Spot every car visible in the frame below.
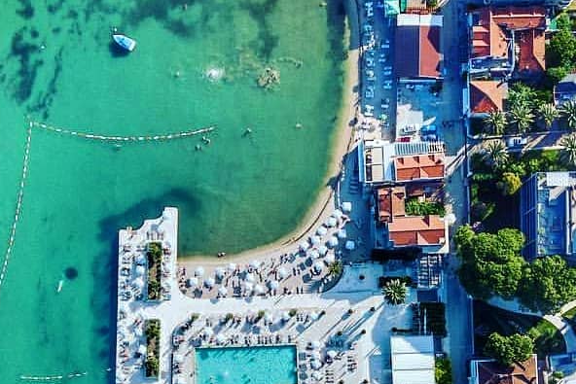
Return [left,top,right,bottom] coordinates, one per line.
[506,137,525,145]
[419,123,438,132]
[419,133,438,141]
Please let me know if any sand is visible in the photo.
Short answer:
Yes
